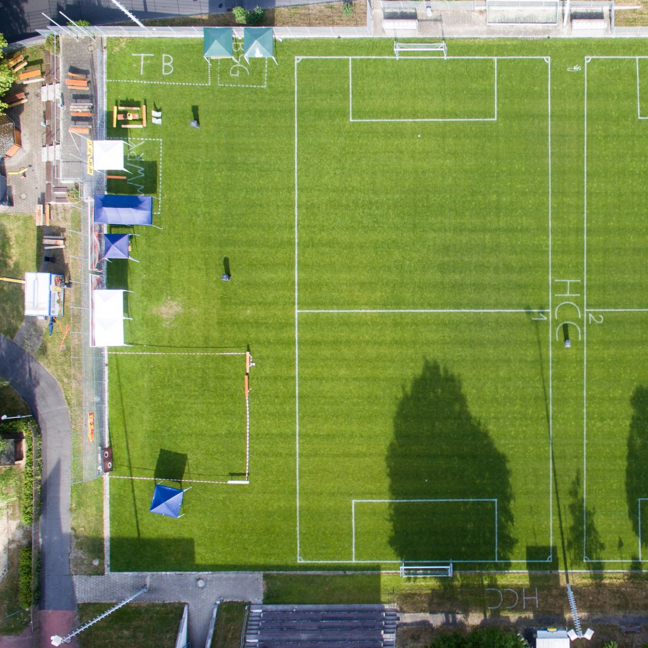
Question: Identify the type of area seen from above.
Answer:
sports ground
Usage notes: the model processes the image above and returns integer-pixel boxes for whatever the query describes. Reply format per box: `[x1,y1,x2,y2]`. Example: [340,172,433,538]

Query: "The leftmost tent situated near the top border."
[204,27,242,65]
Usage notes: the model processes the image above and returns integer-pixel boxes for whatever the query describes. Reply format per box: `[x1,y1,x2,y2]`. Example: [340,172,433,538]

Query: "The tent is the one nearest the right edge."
[244,27,280,65]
